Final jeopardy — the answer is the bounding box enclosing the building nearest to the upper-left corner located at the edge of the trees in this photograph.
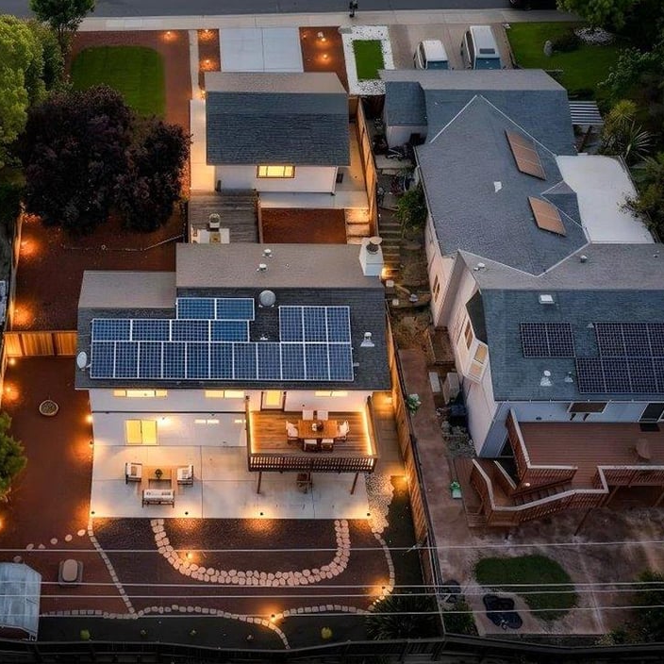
[206,72,350,195]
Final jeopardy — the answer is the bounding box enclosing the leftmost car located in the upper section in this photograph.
[418,37,451,71]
